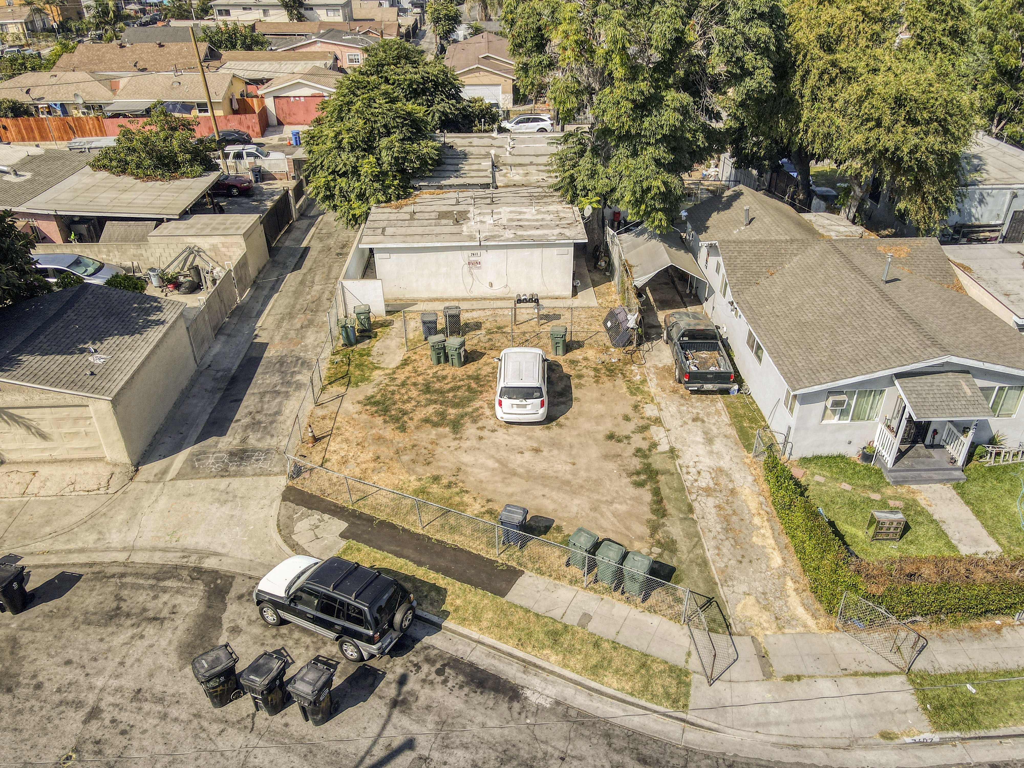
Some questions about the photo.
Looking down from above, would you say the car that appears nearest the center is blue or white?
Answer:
white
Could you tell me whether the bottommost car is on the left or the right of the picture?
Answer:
left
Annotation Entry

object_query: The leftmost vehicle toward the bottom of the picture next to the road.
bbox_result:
[249,551,418,670]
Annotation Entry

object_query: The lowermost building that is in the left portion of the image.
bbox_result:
[0,280,197,468]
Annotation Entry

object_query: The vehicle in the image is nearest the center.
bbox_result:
[488,342,549,423]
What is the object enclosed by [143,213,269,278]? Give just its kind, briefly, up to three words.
shed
